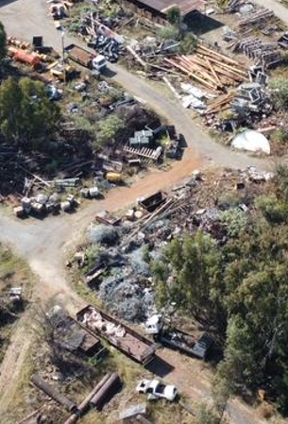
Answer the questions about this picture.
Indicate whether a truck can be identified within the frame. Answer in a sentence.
Yes, I can see a truck in this picture.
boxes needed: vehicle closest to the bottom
[136,376,179,399]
